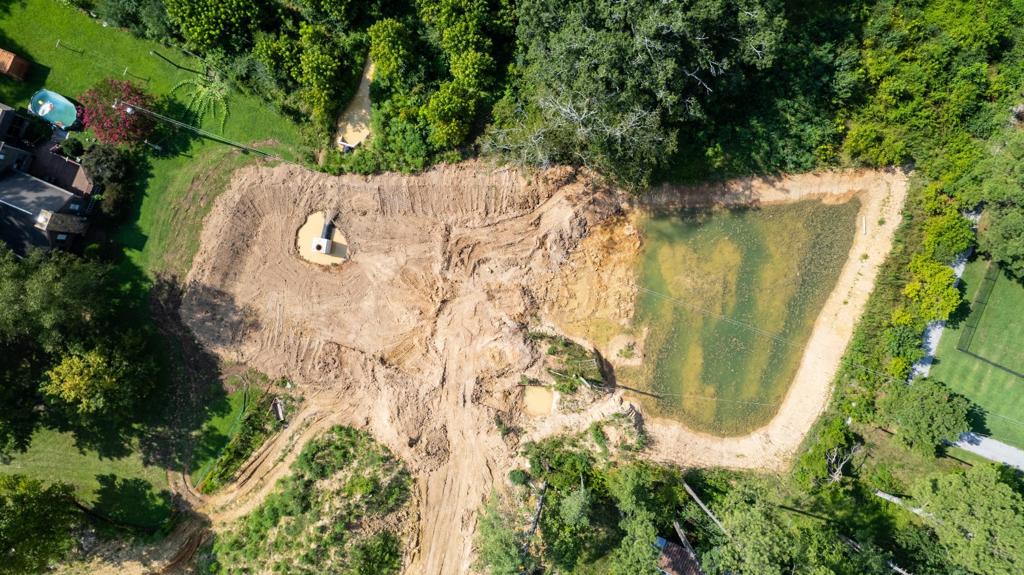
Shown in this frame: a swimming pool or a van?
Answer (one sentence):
Of the two, only a swimming pool appears.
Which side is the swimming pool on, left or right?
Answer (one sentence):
The swimming pool appears in the left half of the scene.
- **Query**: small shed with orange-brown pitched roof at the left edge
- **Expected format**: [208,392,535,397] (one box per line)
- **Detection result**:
[0,49,36,83]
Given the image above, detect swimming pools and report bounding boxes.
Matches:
[27,86,86,135]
